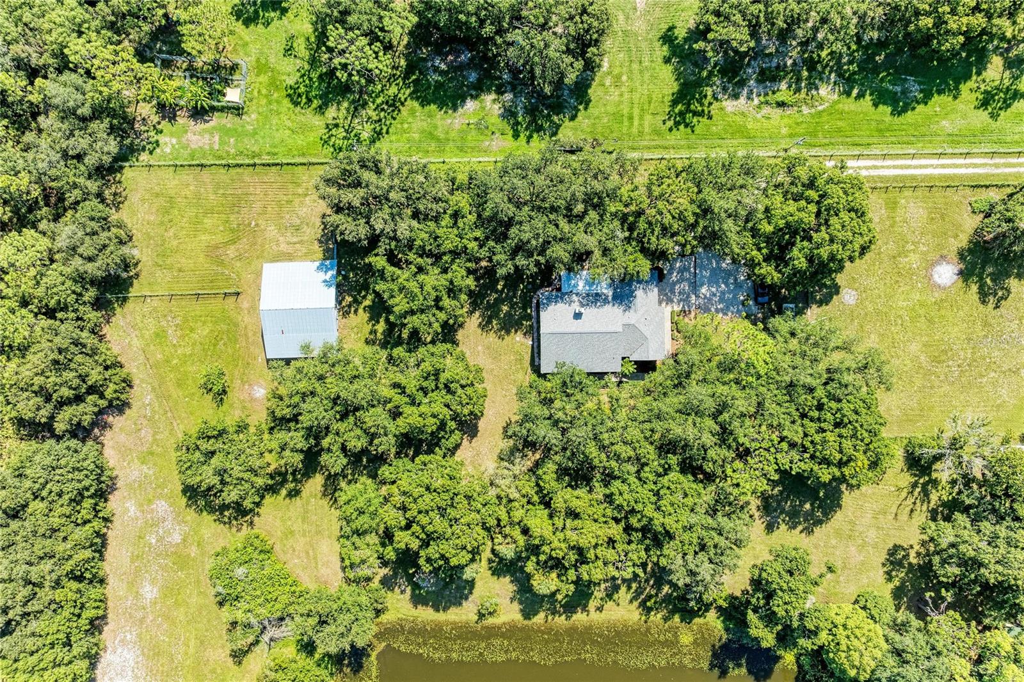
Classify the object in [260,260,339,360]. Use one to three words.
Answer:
shed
